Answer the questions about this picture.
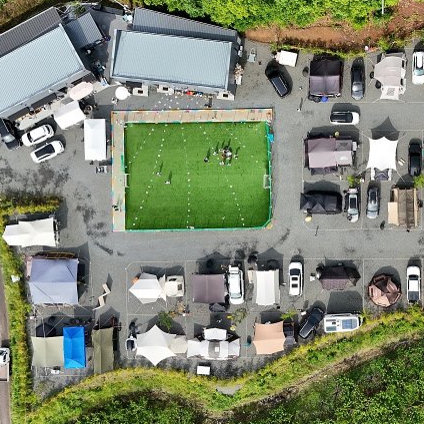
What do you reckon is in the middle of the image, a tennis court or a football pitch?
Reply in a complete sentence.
The one visible in the middle of the image is a football pitch.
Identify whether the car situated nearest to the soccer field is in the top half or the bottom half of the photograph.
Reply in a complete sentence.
It is in the top half that the car situated nearest to the soccer field appears.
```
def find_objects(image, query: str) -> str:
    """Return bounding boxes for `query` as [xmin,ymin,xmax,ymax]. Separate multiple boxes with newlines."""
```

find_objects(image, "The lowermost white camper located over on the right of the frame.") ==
[324,313,362,333]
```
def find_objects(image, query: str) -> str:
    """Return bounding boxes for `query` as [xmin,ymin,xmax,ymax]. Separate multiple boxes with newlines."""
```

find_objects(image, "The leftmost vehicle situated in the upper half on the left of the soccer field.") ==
[0,116,23,151]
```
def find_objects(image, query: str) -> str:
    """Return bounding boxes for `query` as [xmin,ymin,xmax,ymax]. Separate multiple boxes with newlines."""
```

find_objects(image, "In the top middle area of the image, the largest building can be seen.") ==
[111,8,241,93]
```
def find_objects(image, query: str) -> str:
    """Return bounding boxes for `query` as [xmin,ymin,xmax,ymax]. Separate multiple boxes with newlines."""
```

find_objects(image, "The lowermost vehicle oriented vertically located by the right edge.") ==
[405,266,422,303]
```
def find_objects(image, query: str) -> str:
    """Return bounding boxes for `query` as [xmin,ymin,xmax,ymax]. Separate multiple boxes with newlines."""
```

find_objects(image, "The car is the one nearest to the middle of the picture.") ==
[228,266,245,305]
